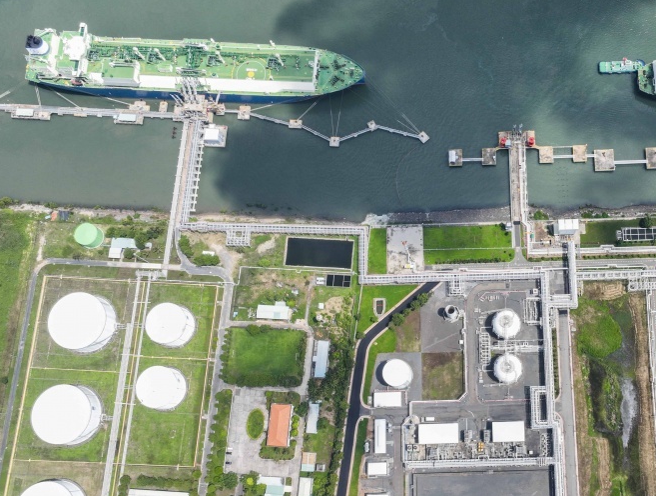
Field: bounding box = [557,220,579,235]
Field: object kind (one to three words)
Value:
house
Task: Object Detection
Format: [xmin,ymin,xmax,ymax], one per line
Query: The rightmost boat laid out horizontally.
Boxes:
[599,60,642,74]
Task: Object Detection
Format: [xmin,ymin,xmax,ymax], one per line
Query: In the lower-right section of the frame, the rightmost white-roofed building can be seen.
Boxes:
[492,421,525,442]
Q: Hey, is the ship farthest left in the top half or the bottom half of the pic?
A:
top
